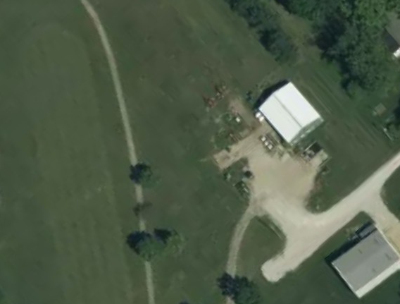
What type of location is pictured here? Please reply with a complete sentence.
The area seen from above is a golf course.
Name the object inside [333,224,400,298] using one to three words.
shed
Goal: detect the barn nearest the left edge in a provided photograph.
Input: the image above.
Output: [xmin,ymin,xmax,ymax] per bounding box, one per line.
[260,83,321,145]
